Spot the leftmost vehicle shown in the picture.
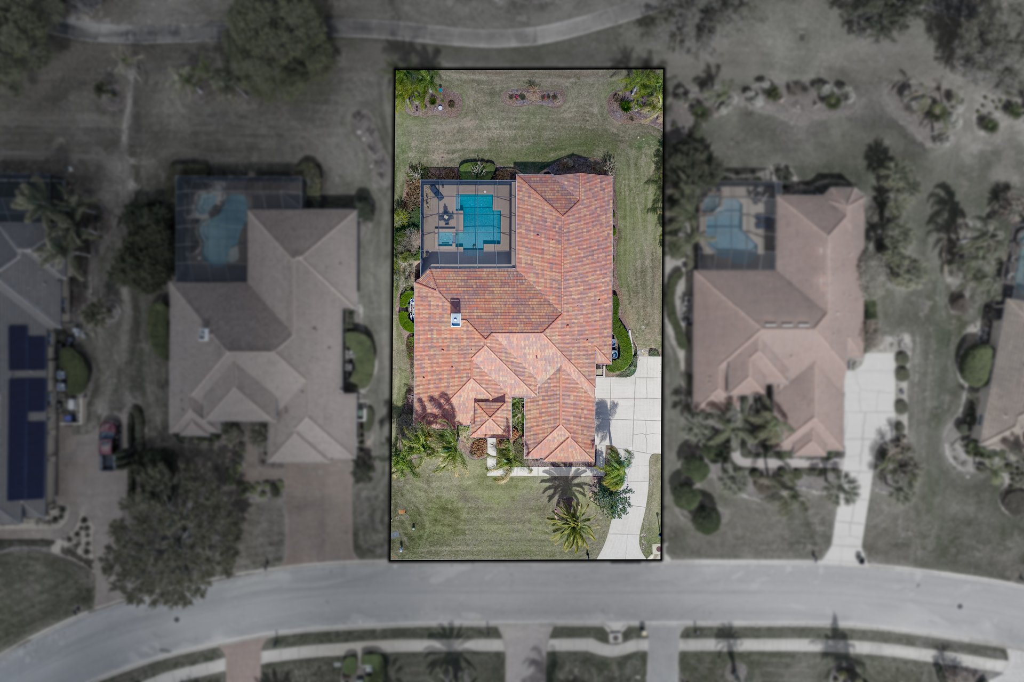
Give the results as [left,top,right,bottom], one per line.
[97,417,122,470]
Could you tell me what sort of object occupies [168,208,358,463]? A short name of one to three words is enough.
house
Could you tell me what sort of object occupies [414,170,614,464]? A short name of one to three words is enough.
house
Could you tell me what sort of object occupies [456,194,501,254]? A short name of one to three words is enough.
swimming pool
